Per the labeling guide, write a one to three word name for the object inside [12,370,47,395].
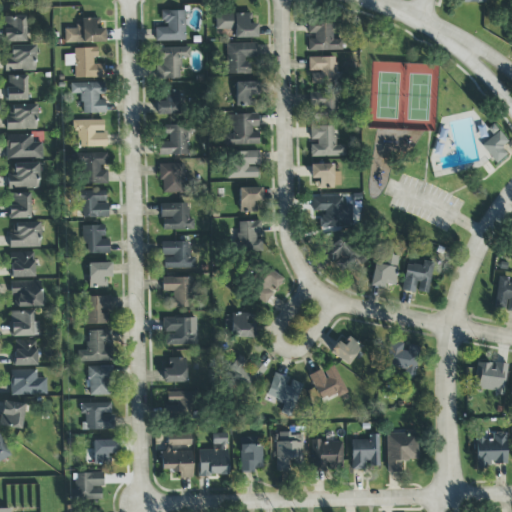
house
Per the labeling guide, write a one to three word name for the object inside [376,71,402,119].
tennis court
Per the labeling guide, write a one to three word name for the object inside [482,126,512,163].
building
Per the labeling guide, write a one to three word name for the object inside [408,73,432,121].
tennis court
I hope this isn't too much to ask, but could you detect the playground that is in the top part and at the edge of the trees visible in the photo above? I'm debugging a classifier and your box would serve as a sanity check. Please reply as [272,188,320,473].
[370,128,426,199]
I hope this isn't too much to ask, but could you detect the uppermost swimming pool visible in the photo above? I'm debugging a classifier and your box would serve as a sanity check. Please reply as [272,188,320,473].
[186,8,202,31]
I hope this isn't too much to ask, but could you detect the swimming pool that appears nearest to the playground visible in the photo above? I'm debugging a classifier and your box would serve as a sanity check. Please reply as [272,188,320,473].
[431,110,490,177]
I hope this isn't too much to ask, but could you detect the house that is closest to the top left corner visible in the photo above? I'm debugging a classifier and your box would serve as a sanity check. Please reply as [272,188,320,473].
[5,16,28,40]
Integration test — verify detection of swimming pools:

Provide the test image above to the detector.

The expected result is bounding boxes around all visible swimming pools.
[190,49,203,72]
[431,110,490,177]
[186,8,202,31]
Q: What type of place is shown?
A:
residential area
